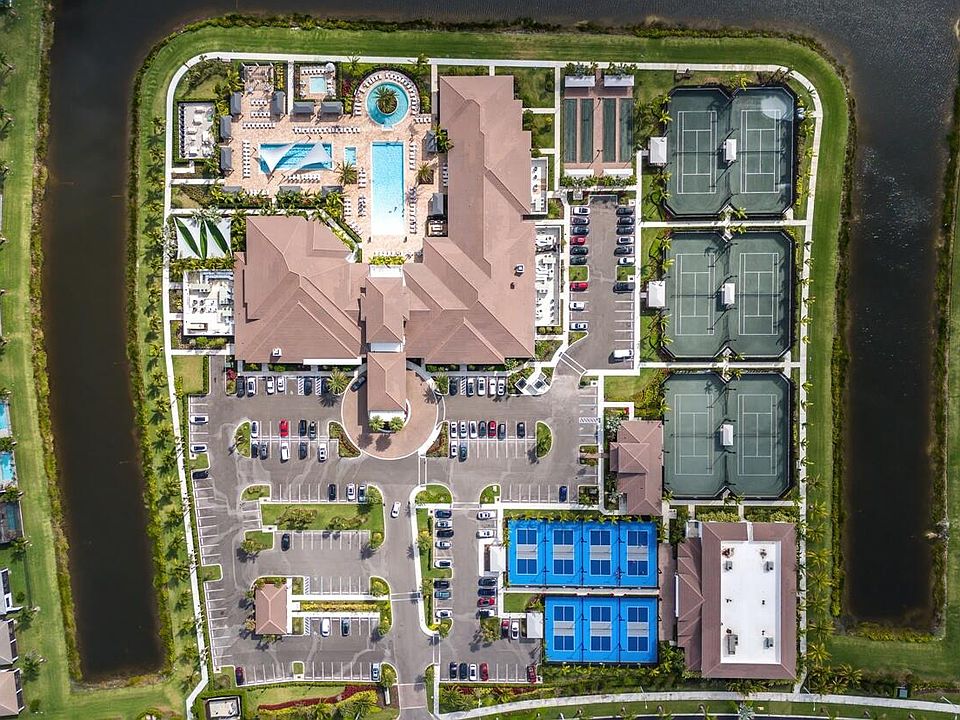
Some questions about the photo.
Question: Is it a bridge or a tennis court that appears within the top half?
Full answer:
Looking within the top half, you will find a tennis court.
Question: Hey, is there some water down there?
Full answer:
Yes, the picture does contain water.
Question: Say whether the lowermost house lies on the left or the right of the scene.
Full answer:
The lowermost house sits on the left side.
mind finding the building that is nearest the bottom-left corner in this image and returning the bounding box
[0,665,32,716]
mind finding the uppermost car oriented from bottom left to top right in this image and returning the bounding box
[350,376,367,391]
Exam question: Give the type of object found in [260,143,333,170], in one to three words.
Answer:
swimming pool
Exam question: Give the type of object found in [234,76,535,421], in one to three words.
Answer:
building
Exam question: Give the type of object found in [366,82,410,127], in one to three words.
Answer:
swimming pool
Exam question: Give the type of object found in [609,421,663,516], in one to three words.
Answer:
building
